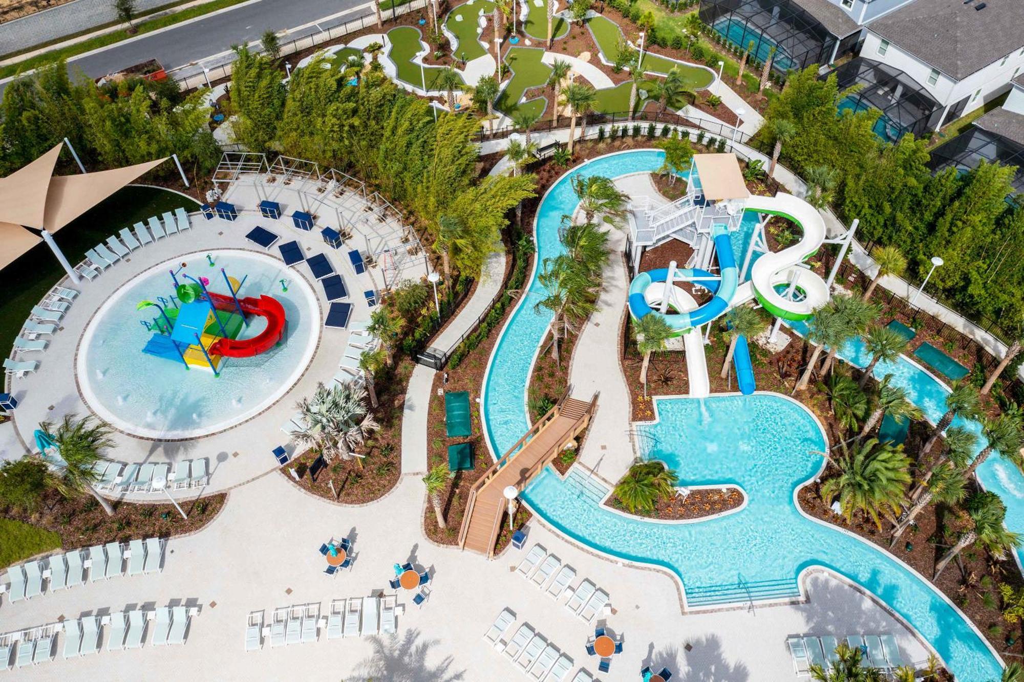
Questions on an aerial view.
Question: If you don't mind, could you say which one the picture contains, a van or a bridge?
bridge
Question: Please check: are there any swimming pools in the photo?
Yes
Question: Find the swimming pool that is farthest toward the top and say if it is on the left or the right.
right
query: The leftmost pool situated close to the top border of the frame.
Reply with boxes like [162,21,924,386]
[714,17,797,70]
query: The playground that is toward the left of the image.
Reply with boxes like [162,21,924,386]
[136,261,287,379]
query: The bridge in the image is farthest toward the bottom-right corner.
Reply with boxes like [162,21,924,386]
[458,387,594,557]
